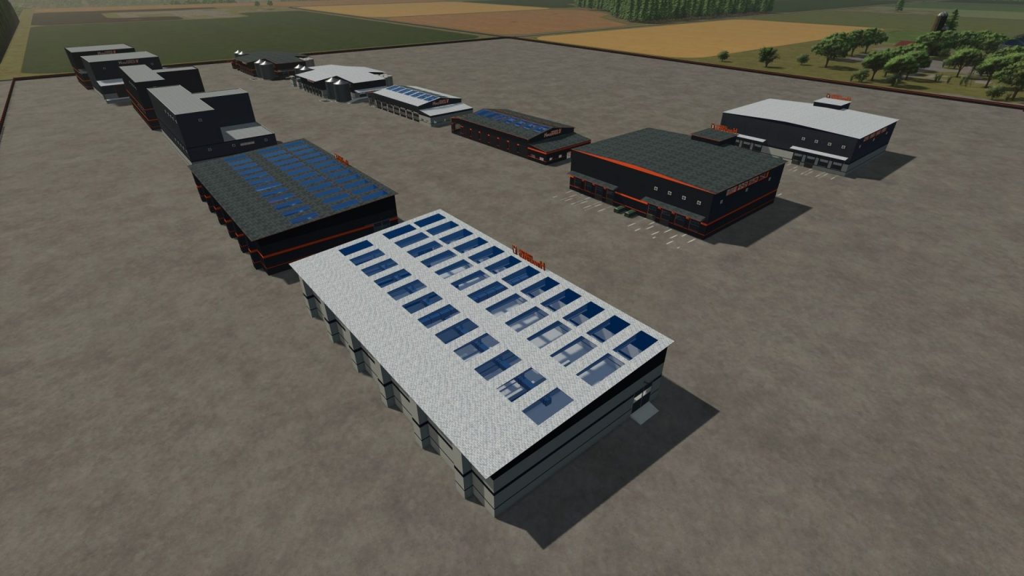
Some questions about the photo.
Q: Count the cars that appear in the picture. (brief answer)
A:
0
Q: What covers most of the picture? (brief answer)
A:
paved ground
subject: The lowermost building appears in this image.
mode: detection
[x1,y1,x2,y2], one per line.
[287,210,675,517]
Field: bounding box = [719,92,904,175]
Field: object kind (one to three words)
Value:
building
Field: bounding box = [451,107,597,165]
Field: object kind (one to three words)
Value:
shed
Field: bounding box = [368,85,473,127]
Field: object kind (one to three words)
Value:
shed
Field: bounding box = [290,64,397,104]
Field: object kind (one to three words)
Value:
building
